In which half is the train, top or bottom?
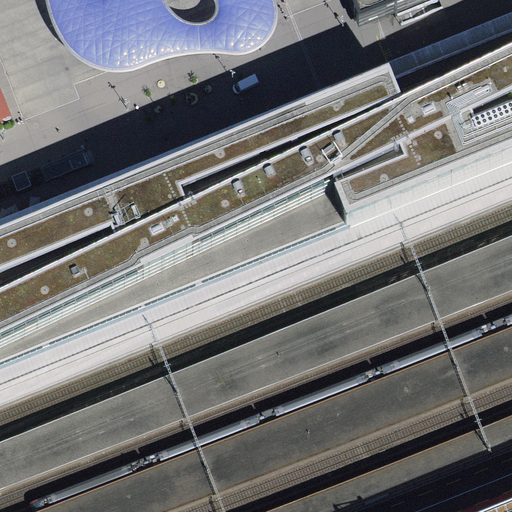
bottom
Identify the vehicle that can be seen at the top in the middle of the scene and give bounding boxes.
[233,74,259,94]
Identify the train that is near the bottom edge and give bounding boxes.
[30,310,512,512]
